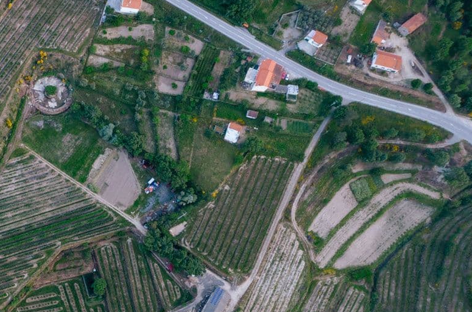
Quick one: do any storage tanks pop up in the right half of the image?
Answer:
No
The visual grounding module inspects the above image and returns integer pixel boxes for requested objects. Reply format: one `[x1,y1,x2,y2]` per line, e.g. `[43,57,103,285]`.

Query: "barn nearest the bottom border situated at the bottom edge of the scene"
[197,285,231,312]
